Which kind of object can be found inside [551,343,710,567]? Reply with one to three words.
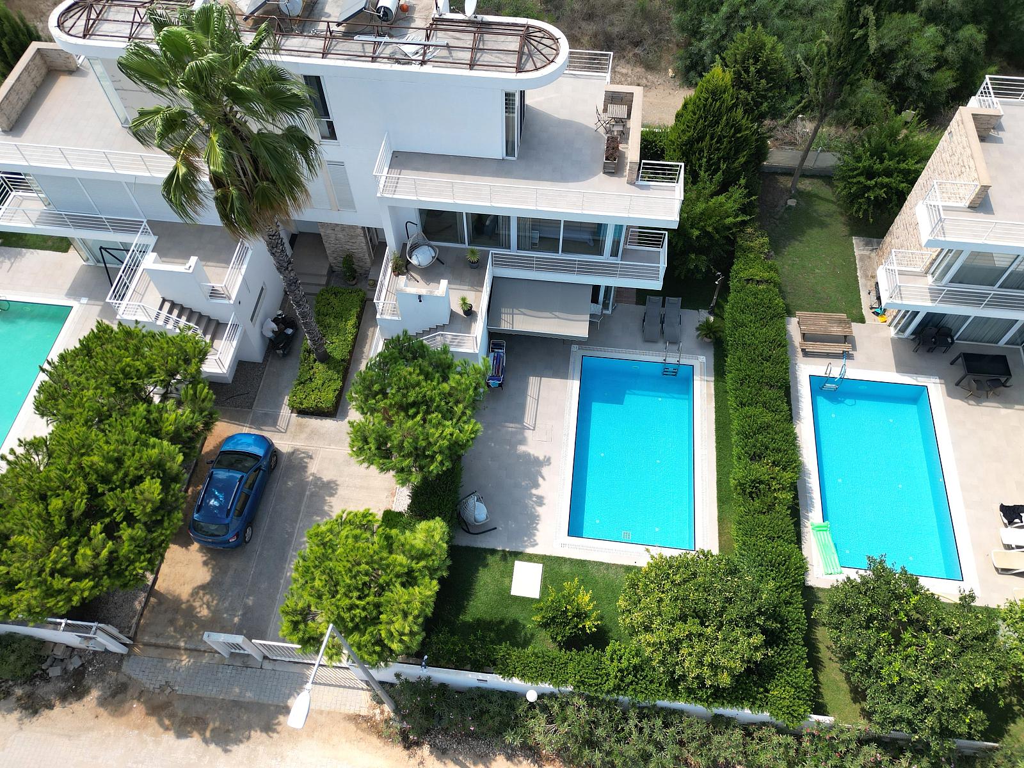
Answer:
swimming pool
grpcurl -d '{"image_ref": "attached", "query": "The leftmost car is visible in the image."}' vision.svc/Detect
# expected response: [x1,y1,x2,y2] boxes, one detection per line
[182,430,278,555]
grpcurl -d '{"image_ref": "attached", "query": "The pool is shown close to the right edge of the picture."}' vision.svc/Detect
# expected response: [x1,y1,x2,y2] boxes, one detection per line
[796,363,979,596]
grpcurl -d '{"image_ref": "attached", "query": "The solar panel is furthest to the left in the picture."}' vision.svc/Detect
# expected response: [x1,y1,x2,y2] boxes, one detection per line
[240,0,274,21]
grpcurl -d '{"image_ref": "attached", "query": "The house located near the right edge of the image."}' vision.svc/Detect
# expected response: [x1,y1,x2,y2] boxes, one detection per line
[874,76,1024,348]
